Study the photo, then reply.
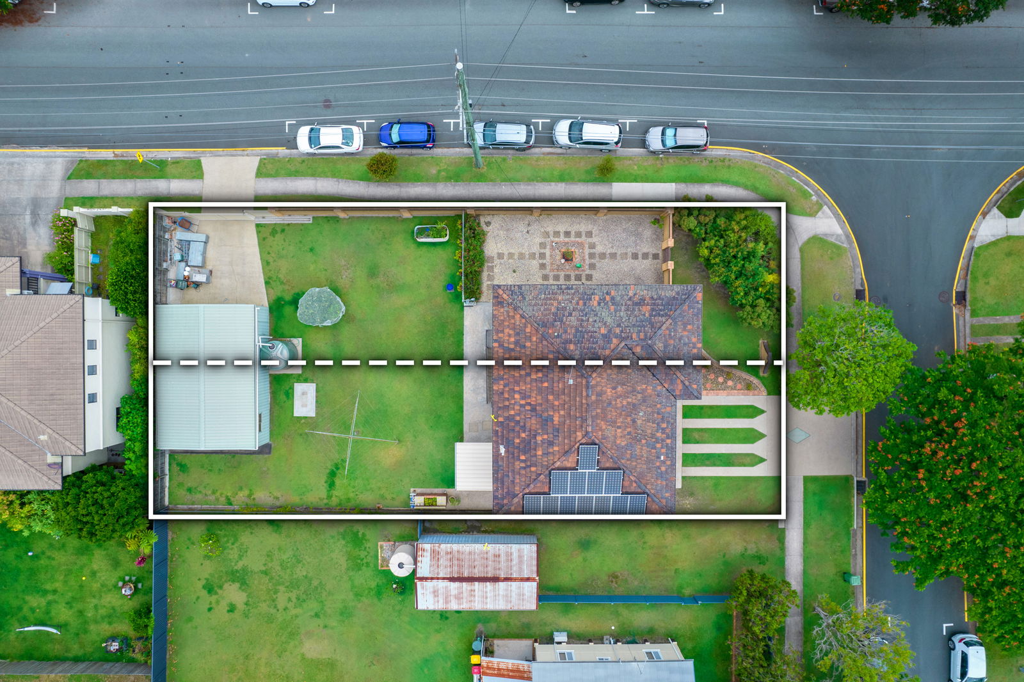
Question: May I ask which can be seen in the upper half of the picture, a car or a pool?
car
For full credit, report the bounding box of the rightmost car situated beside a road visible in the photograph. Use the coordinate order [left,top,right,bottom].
[947,632,988,682]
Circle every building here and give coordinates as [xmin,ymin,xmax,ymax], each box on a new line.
[487,283,704,523]
[155,302,269,452]
[414,535,539,611]
[532,640,694,682]
[0,255,125,491]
